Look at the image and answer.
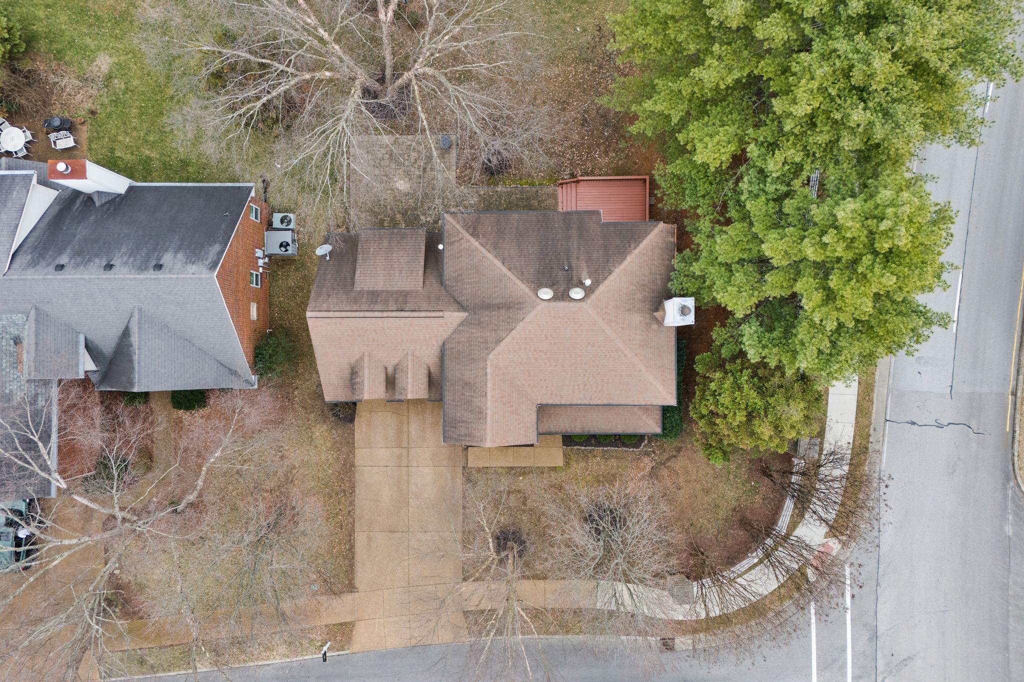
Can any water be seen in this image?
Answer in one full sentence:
No, the scene doesn't show any water.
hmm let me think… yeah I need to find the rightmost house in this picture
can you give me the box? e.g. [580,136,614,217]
[306,209,696,449]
